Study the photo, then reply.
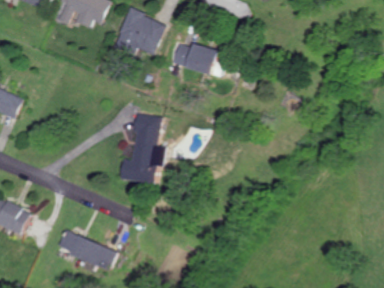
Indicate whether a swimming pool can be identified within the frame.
Yes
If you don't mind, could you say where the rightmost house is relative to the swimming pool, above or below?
above it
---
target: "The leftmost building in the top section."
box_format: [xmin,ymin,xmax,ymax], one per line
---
[0,89,26,118]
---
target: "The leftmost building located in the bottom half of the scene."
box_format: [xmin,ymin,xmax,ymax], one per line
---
[0,200,32,236]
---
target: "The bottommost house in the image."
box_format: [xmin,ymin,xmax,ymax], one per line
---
[59,230,118,272]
